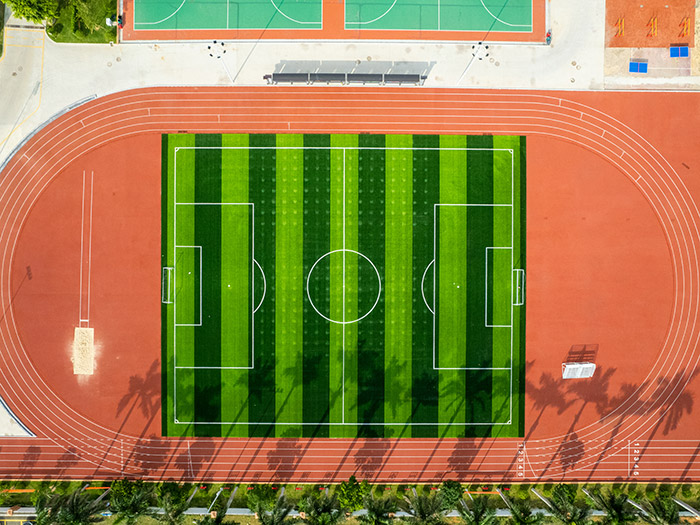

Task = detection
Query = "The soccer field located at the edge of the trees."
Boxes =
[161,134,526,438]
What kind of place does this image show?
sports ground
